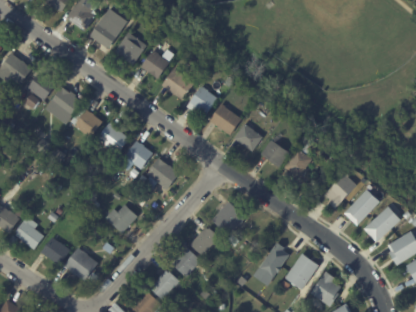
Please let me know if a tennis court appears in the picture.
No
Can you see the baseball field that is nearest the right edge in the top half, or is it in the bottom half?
top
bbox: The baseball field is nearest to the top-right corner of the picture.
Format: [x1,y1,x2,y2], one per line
[246,0,416,92]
